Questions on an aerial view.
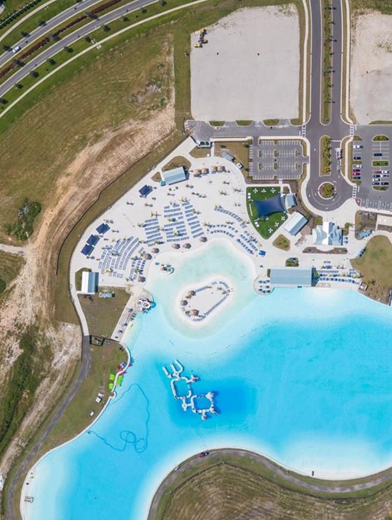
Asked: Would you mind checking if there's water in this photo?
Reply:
Yes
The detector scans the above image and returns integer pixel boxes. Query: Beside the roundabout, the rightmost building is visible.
[312,221,343,245]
